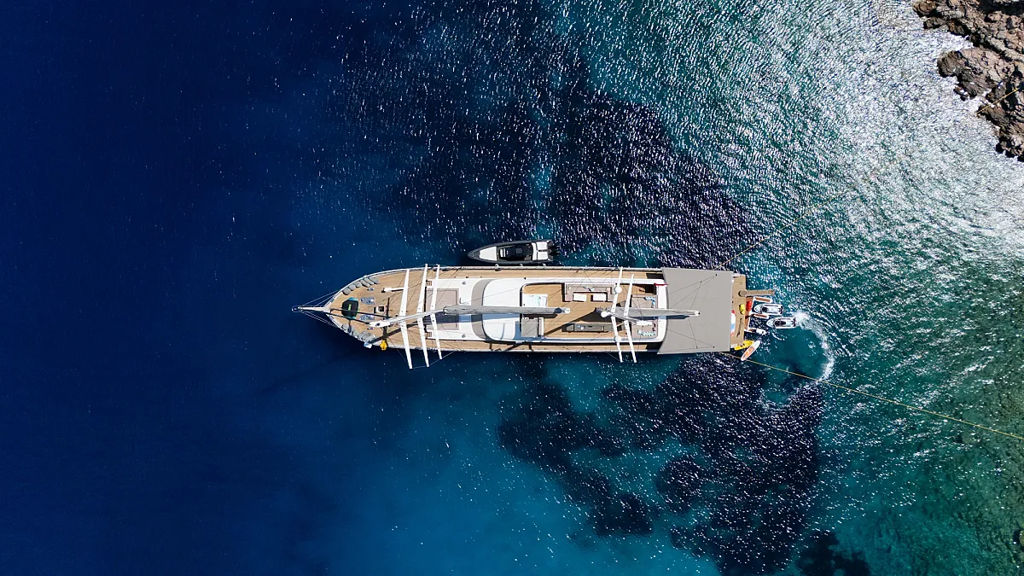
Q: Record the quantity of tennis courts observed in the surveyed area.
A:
0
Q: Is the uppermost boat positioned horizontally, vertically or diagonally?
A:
horizontally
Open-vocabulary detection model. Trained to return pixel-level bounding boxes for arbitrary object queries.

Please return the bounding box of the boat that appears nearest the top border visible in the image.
[467,240,557,264]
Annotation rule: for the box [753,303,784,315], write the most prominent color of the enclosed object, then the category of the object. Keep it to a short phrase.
white boat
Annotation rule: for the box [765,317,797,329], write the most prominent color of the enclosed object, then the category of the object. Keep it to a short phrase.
white boat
